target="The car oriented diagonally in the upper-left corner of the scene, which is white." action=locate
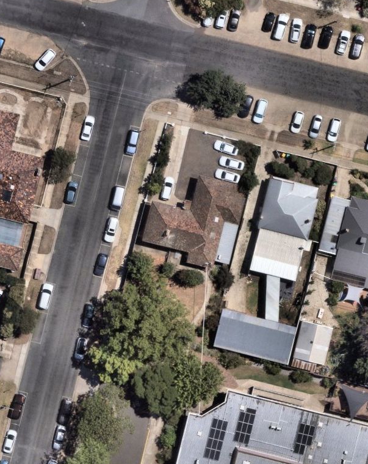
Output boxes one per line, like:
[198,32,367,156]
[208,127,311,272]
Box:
[35,48,55,72]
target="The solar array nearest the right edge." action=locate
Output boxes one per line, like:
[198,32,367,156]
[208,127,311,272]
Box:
[331,270,366,286]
